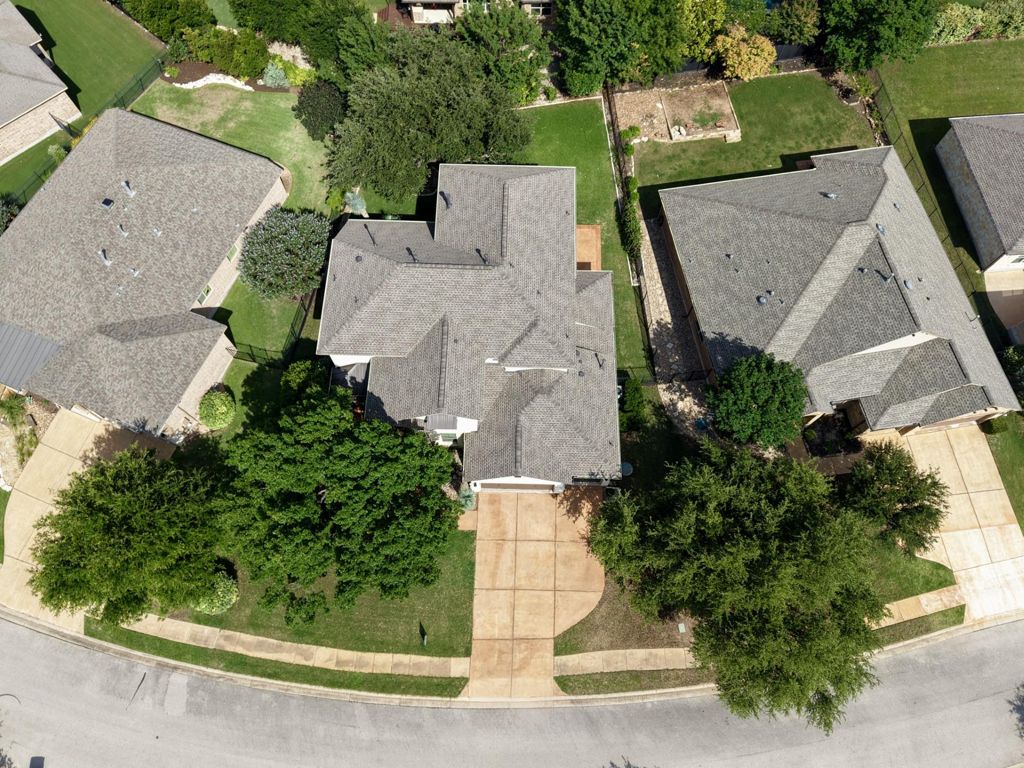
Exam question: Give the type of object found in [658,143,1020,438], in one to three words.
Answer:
house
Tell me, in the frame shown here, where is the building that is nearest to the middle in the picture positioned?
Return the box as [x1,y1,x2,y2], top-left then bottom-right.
[315,163,621,491]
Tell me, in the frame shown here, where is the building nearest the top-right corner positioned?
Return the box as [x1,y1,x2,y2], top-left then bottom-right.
[935,112,1024,272]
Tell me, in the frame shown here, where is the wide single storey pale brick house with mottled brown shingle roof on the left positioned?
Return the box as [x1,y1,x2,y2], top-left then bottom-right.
[0,105,288,441]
